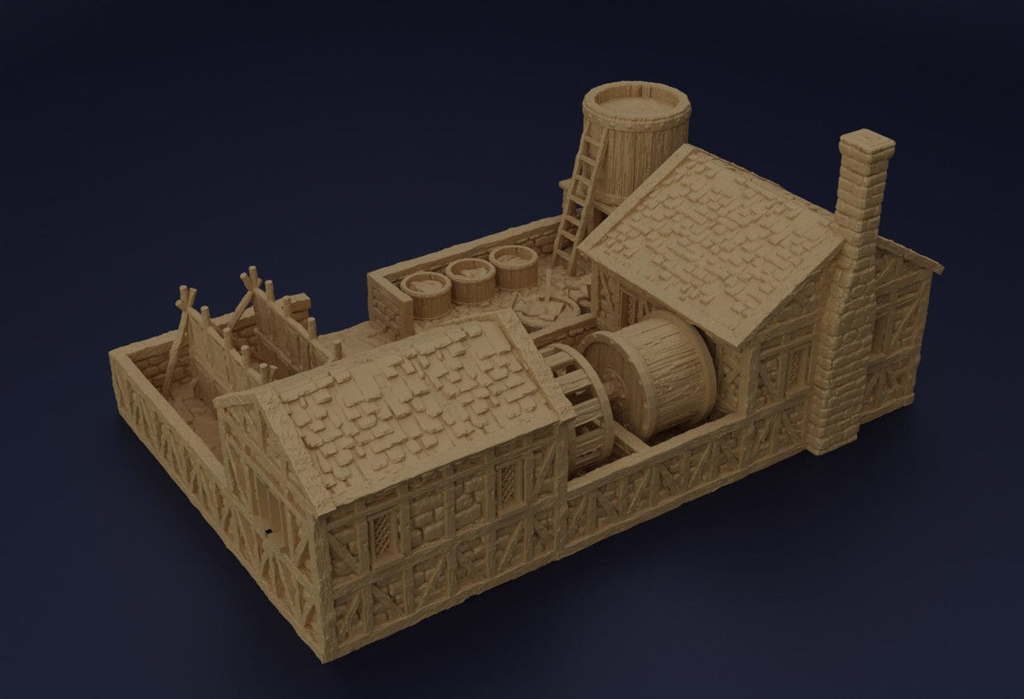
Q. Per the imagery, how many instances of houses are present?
2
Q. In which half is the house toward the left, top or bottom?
bottom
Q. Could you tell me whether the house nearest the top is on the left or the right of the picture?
right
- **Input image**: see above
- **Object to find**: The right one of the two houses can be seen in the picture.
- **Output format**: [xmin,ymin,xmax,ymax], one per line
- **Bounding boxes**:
[577,127,943,478]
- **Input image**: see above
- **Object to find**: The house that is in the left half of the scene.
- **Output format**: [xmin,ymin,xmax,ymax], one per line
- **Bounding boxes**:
[210,305,576,665]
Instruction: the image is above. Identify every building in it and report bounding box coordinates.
[577,127,943,478]
[210,305,576,665]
